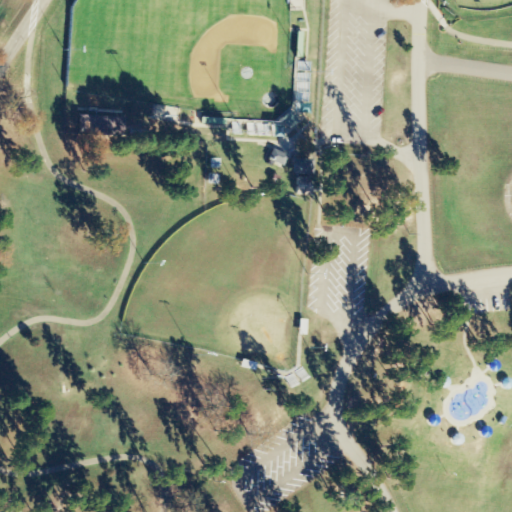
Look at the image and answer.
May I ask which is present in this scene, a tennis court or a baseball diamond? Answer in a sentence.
The one in the frame is a baseball diamond.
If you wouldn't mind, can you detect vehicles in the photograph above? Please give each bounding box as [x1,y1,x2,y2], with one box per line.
[375,106,386,117]
[494,298,500,310]
[376,28,387,39]
[331,138,343,144]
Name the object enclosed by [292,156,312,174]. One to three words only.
building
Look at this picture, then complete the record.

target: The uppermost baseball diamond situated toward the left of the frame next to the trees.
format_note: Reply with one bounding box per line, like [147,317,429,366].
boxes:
[67,0,292,120]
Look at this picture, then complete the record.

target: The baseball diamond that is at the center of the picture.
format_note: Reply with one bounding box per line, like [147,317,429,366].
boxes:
[122,195,310,370]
